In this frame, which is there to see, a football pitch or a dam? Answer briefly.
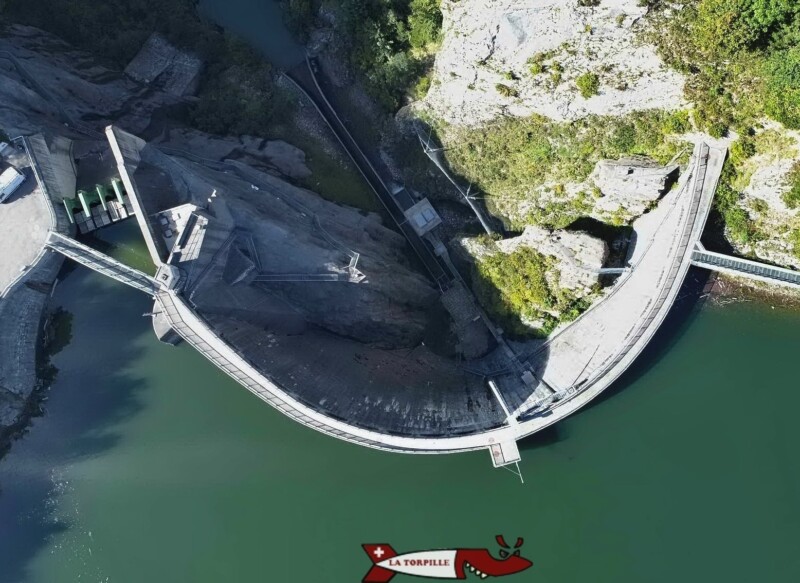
dam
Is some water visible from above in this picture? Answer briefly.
Yes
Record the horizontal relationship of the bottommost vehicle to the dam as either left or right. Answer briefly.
to the left of it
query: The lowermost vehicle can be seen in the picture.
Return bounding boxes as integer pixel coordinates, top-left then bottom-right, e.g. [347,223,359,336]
[0,167,27,205]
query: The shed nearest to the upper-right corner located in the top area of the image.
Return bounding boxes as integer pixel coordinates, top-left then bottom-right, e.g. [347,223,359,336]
[405,199,441,236]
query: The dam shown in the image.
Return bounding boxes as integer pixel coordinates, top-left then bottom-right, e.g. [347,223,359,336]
[162,140,727,456]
